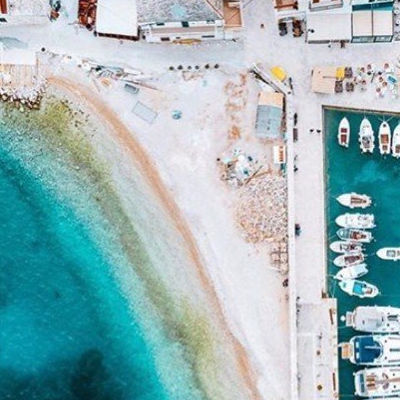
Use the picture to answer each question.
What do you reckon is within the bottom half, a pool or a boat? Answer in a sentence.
You can see a boat within the bottom half.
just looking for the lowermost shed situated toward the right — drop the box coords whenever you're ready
[256,92,283,143]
